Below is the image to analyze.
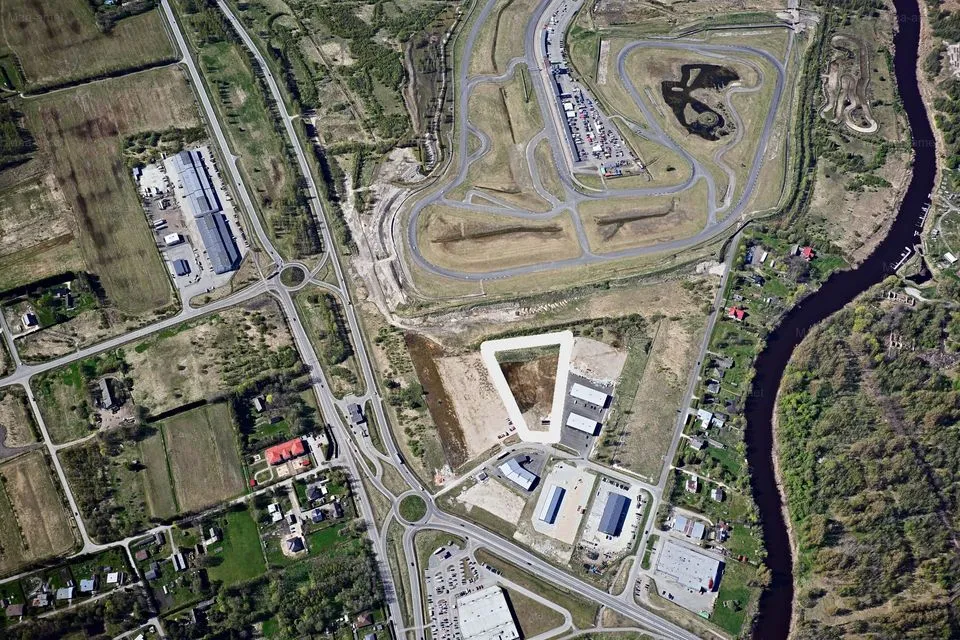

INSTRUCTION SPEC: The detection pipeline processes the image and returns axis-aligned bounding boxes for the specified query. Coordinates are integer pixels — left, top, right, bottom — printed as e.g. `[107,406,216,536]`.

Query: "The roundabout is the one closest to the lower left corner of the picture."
[391,486,434,529]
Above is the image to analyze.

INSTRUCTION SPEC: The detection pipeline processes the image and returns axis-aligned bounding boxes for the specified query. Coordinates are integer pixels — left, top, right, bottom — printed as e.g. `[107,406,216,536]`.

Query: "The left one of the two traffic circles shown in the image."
[274,260,311,293]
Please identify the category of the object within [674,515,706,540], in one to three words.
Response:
shed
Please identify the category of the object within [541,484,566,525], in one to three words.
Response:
building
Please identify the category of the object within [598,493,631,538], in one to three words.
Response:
building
